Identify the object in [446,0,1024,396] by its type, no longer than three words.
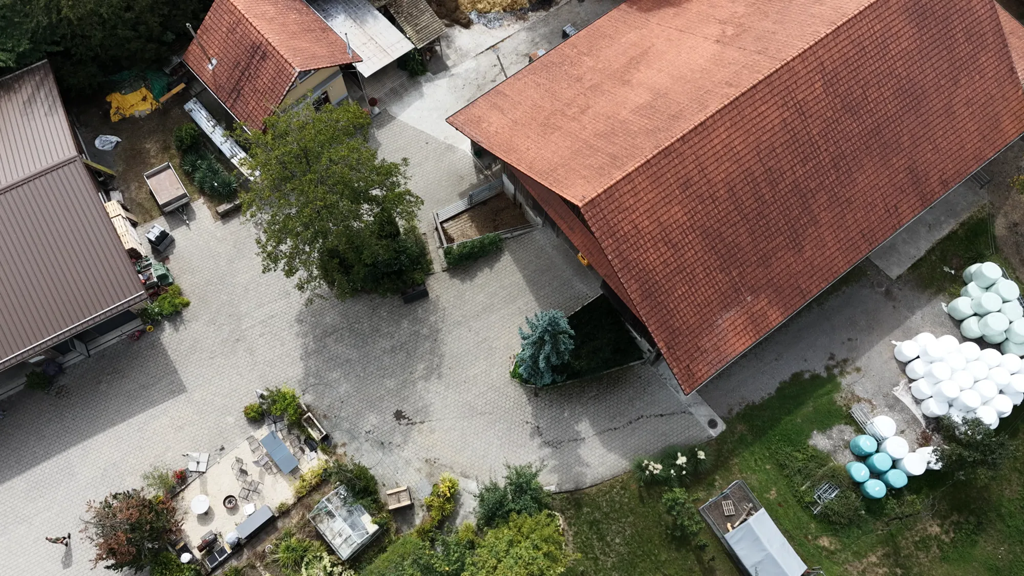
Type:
barn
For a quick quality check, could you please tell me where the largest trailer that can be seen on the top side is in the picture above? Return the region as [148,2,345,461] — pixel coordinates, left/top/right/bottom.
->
[151,159,197,229]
